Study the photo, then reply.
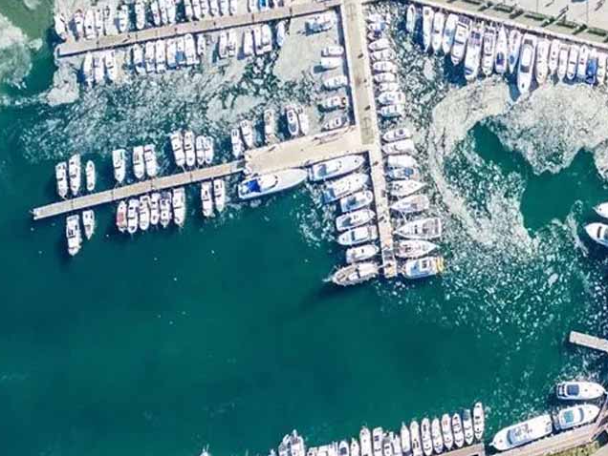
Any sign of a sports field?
No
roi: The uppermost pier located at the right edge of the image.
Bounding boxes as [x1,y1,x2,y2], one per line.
[569,331,608,352]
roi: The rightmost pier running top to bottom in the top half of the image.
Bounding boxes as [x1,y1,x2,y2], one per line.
[342,0,400,279]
